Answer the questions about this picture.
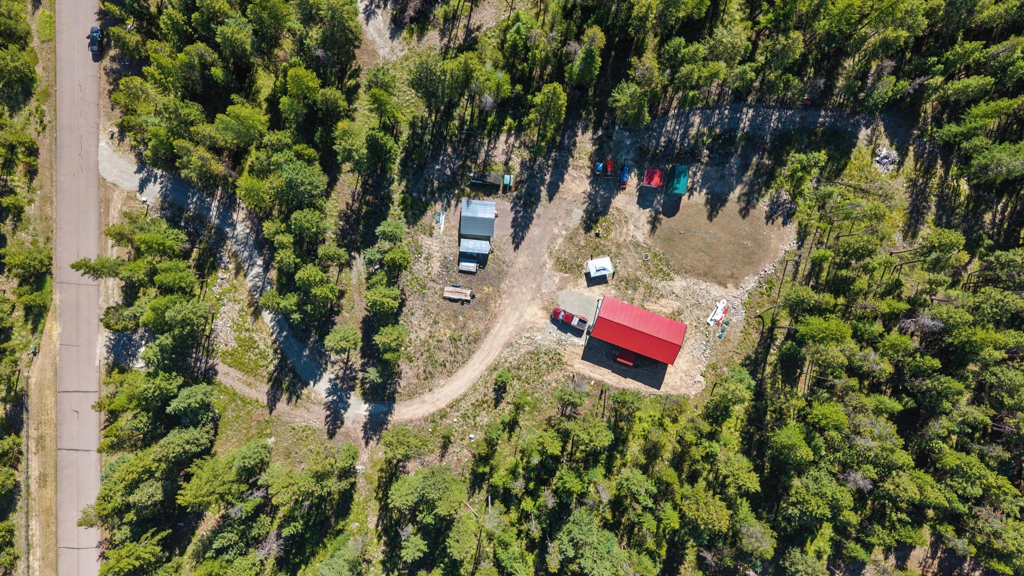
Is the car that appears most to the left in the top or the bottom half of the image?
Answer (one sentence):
It is in the top half that the car that appears most to the left appears.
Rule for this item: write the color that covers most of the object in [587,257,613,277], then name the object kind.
white tent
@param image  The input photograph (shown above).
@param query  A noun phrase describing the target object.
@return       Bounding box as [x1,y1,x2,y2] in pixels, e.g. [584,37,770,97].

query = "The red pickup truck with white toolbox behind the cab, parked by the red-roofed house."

[549,307,589,333]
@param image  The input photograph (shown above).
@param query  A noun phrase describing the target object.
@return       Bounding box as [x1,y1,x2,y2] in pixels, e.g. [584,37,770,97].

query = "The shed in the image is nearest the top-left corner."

[461,201,496,236]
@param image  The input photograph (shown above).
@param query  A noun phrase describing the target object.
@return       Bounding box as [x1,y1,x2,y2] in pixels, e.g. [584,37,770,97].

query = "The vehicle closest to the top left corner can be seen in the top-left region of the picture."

[84,27,105,54]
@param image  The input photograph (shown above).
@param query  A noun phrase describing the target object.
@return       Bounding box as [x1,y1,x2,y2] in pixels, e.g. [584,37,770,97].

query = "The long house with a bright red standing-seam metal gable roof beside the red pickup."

[590,295,687,364]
